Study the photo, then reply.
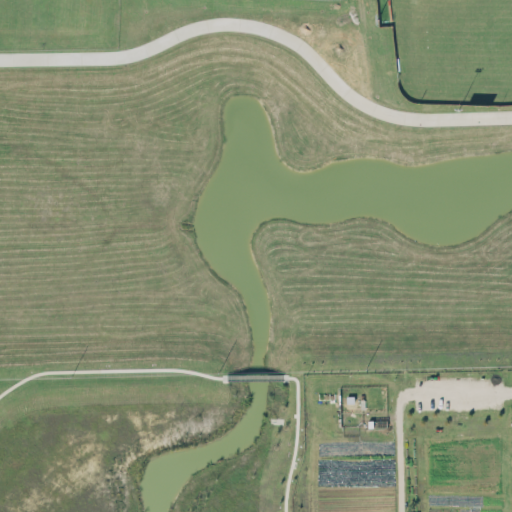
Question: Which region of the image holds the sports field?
top right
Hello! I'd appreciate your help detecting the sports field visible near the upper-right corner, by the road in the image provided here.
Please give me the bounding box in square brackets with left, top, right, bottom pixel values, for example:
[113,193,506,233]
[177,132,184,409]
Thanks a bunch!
[380,0,512,105]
